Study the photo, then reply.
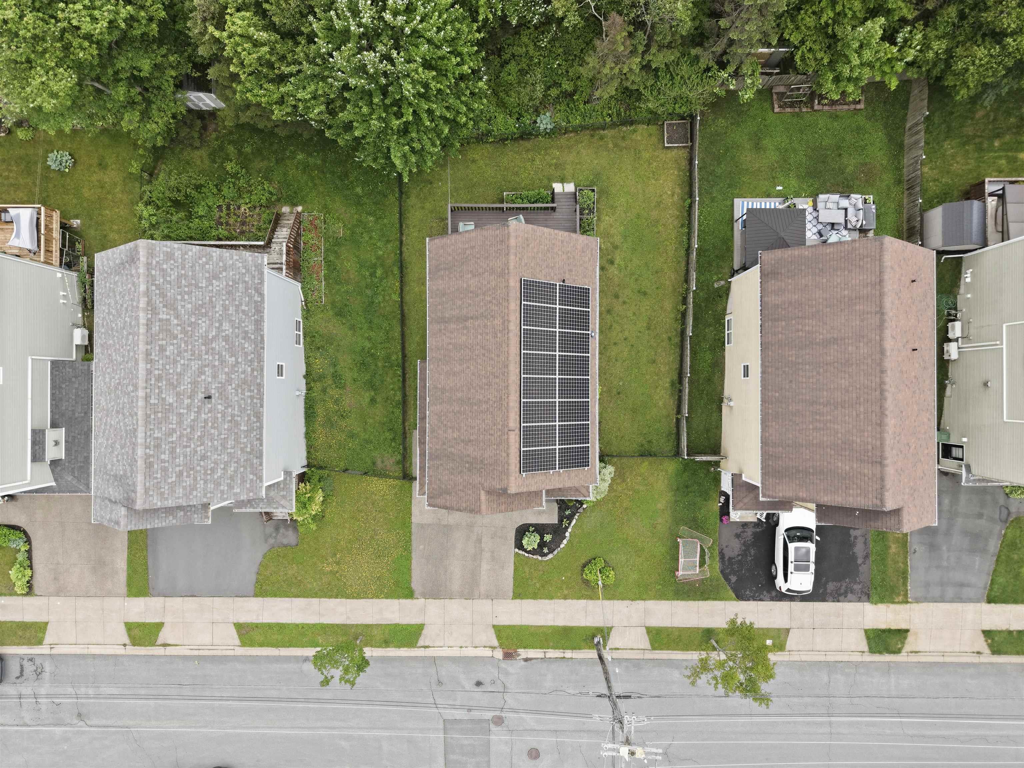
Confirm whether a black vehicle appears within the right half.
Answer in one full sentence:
No, no black vehicle appears within the right half.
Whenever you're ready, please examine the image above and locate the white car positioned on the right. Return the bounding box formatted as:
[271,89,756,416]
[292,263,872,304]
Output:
[771,505,820,596]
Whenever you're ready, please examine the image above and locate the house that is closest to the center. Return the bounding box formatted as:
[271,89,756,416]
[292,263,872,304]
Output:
[416,223,601,515]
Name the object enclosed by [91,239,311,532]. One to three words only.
house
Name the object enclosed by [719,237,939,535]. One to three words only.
house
